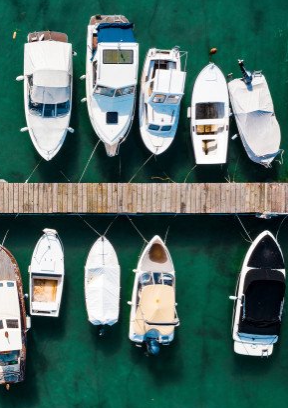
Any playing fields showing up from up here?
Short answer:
No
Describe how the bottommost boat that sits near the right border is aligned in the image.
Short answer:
vertically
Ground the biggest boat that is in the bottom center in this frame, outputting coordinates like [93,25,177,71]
[129,233,180,361]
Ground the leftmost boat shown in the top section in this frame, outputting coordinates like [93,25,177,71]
[23,30,73,160]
